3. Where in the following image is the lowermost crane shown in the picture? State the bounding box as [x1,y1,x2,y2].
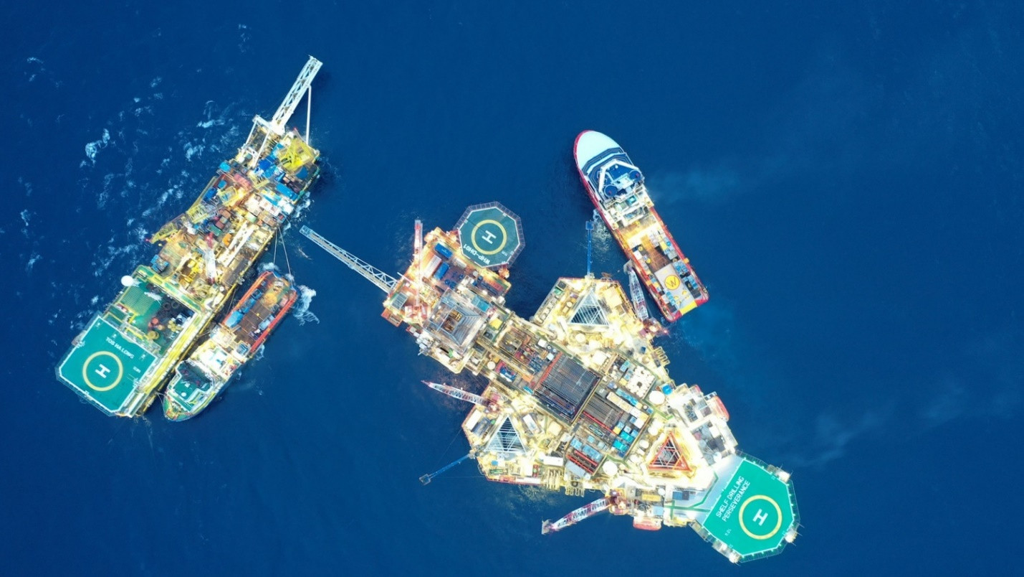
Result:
[551,485,633,529]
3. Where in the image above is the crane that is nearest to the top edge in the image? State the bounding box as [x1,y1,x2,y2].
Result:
[279,127,317,172]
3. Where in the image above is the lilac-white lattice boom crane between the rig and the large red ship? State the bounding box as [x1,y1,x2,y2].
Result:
[628,266,660,334]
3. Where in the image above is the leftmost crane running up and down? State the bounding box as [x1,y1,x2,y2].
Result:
[199,233,217,284]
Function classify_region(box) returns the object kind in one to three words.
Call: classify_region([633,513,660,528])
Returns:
boat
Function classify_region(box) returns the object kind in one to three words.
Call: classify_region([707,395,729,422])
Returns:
boat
